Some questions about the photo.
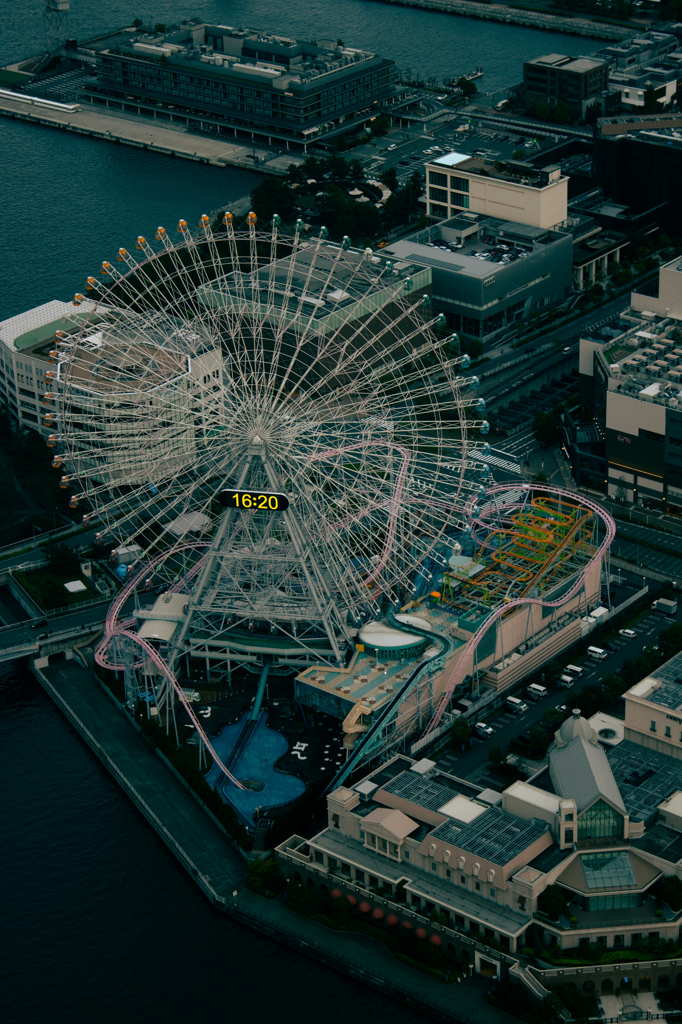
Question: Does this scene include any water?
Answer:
Yes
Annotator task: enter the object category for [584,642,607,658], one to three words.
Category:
vehicle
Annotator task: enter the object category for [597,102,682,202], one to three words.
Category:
building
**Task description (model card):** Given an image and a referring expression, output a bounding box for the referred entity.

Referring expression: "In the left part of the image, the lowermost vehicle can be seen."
[178,684,202,706]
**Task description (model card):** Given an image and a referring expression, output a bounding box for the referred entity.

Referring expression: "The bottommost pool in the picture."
[205,711,308,822]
